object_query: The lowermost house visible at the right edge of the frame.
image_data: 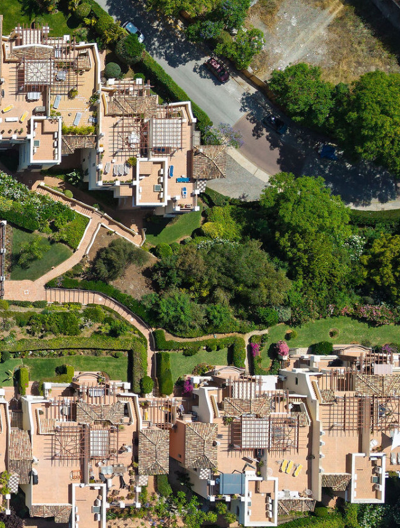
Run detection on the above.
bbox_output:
[266,344,400,503]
